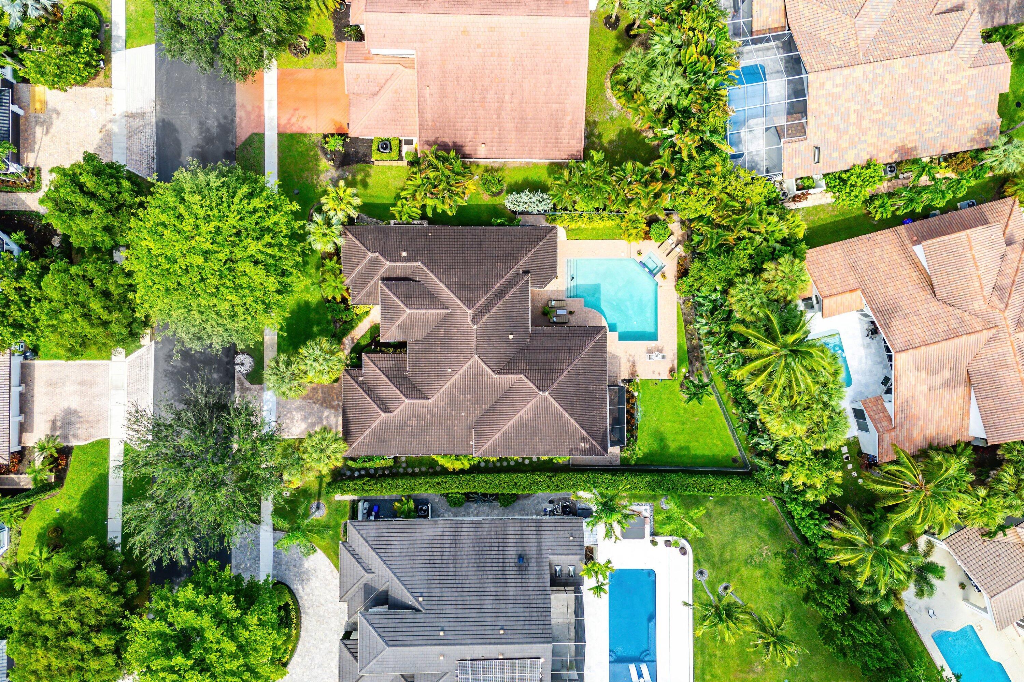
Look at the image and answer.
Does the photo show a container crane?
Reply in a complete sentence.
No, this view has no container crane in it.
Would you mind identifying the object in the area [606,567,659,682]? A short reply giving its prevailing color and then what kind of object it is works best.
blue swimming pool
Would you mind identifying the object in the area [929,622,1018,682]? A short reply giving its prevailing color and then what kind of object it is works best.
blue swimming pool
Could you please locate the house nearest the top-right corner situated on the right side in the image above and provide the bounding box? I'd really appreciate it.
[746,0,1014,181]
